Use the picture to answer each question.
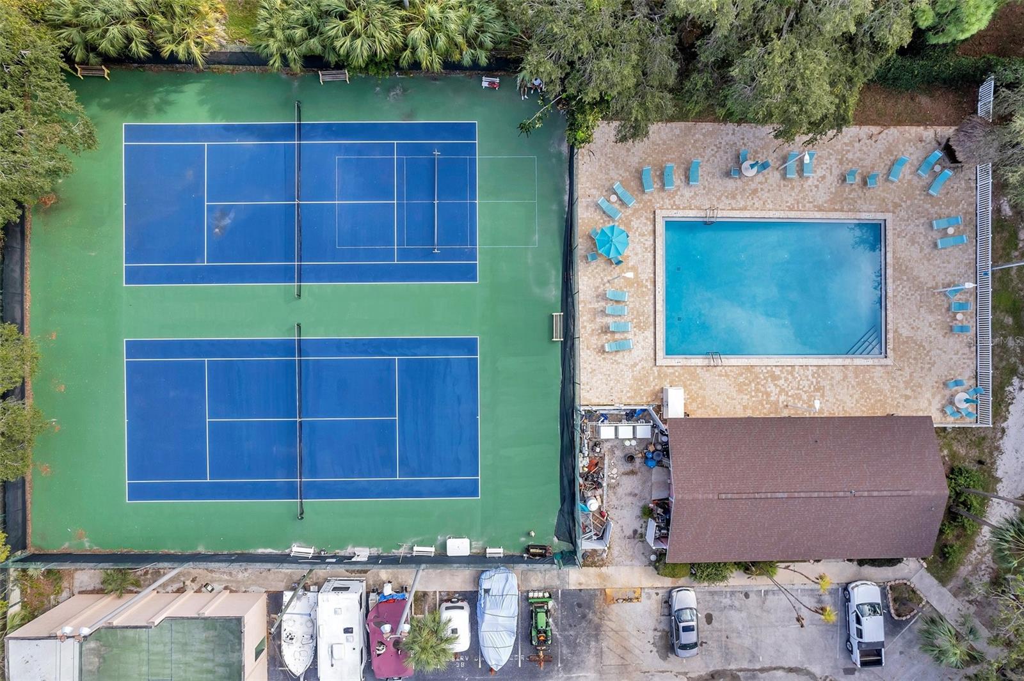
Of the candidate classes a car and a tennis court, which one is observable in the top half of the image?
tennis court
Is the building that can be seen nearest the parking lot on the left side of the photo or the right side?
right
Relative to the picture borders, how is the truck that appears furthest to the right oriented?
up and down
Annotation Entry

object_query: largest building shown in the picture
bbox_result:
[663,418,948,562]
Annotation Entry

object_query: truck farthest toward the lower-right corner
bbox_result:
[842,580,883,668]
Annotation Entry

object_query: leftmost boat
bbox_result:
[279,579,319,681]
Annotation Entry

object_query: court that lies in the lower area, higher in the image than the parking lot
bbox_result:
[125,337,480,502]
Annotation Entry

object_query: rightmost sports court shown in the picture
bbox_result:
[336,156,537,248]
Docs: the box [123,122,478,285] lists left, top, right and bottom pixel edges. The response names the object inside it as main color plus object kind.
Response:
blue tennis court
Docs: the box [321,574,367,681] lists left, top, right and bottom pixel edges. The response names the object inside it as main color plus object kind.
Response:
white camper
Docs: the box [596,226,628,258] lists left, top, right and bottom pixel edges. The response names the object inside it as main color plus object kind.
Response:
blue umbrella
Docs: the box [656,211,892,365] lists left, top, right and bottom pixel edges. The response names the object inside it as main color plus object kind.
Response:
blue swimming pool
